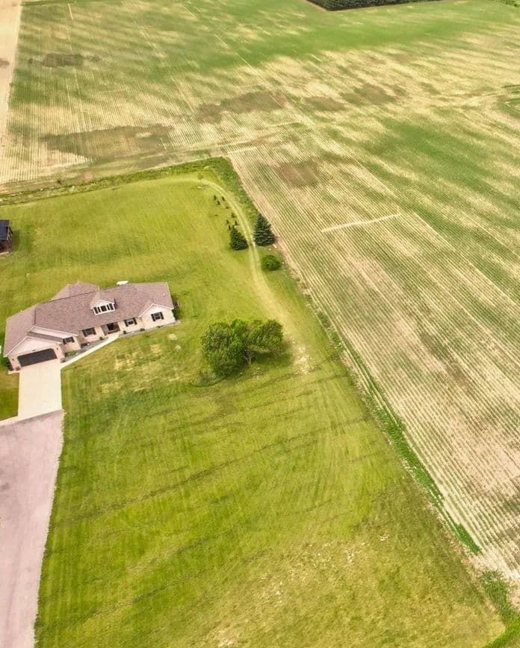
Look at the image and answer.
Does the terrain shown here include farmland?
Yes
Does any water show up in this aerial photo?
No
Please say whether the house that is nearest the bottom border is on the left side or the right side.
left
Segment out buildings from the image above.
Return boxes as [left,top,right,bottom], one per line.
[0,272,179,374]
[0,216,12,254]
